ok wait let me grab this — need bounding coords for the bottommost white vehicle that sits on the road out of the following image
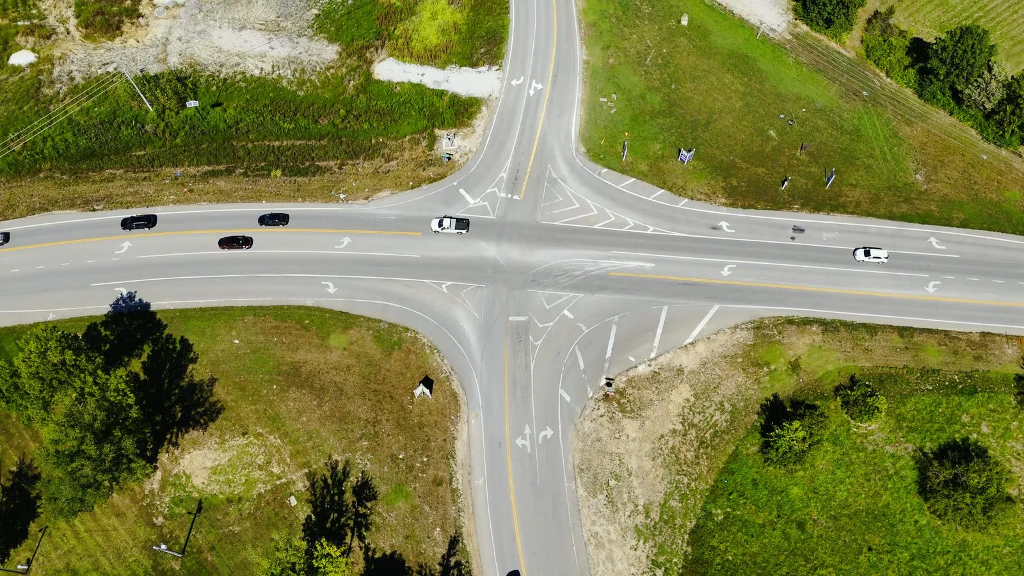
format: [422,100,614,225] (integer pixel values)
[854,246,892,265]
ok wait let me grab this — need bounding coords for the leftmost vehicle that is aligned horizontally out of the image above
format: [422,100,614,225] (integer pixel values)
[118,212,157,232]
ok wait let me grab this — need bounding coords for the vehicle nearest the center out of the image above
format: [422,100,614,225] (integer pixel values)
[429,215,473,235]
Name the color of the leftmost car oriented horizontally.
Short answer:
black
